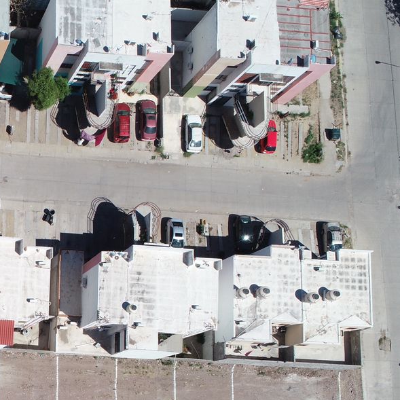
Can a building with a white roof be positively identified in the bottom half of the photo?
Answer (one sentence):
Yes, a building with a white roof can be seen in the bottom half of the photo.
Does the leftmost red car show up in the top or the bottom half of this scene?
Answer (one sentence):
The top half of the photo is where the leftmost red car is.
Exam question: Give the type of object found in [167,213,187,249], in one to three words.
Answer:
car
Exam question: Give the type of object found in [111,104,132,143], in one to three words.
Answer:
car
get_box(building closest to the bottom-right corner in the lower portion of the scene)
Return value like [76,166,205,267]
[201,213,376,352]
